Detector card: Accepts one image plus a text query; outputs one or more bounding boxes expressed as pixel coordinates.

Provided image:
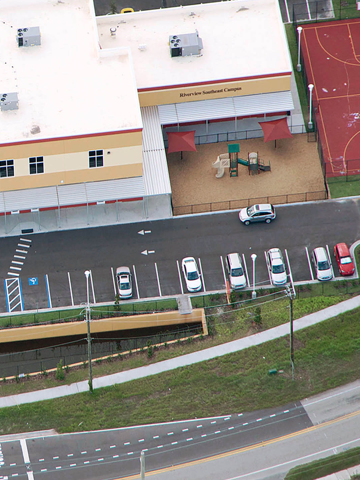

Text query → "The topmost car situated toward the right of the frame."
[239,202,278,225]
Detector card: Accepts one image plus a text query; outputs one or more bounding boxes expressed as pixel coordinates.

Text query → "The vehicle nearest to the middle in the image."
[182,256,201,290]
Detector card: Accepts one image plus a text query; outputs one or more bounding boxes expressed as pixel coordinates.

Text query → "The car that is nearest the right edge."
[335,241,355,274]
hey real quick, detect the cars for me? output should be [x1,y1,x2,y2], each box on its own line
[115,263,134,298]
[335,241,355,274]
[312,242,334,281]
[268,245,289,283]
[239,202,278,225]
[182,256,201,290]
[227,249,248,287]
